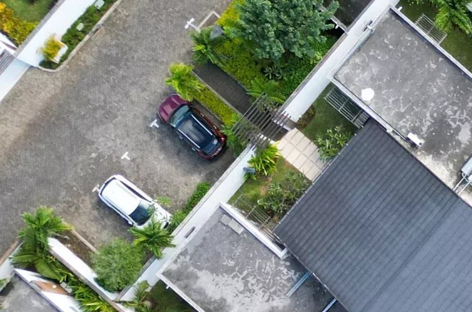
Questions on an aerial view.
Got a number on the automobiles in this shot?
2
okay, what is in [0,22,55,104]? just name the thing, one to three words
house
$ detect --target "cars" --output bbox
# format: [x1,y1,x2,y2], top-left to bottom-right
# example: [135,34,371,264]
[94,167,177,231]
[157,93,234,164]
